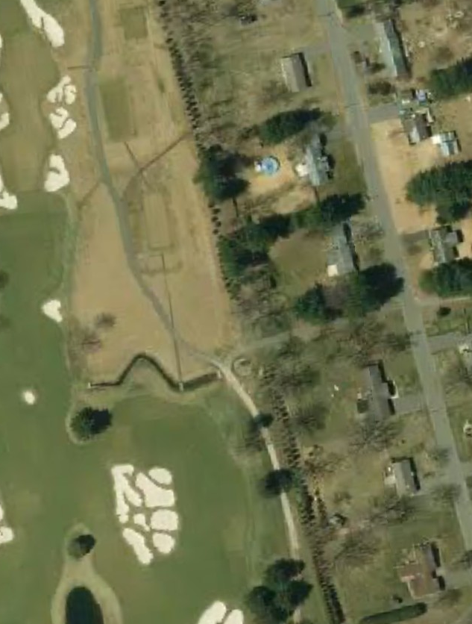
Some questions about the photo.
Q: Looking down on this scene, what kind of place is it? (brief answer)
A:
golf course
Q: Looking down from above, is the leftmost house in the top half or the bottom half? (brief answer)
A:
top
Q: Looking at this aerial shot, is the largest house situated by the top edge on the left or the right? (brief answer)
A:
right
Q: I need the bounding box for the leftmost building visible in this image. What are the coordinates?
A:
[283,54,308,90]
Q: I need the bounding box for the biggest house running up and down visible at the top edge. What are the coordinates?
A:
[376,21,406,76]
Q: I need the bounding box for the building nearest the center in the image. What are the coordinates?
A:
[329,223,355,276]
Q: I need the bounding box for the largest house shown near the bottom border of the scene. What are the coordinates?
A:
[400,544,441,600]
